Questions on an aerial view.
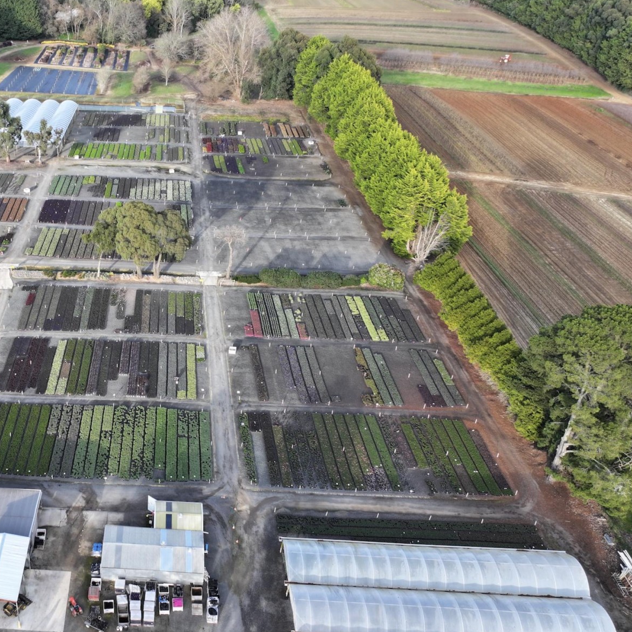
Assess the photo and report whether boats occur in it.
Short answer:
No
